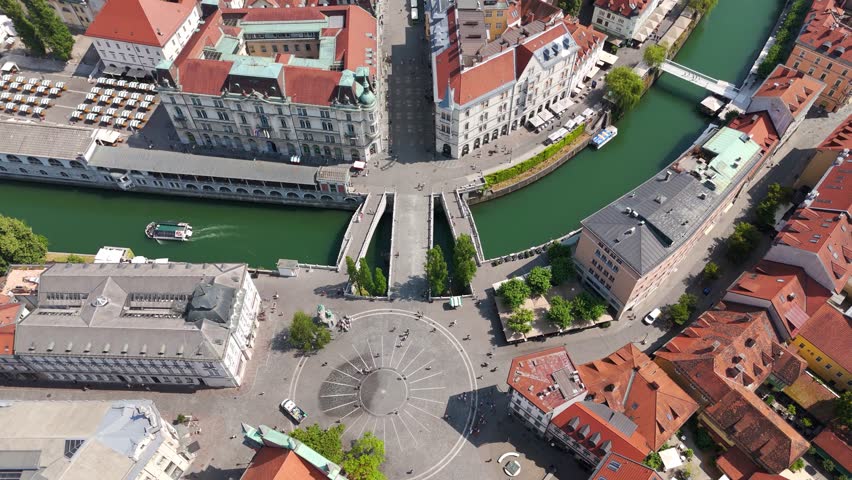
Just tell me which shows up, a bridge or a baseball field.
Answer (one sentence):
This aerial view contains a bridge.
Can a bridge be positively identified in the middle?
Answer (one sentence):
Yes, you'll find a bridge in the middle.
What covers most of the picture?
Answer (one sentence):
The bulk of the photo consists of buildings.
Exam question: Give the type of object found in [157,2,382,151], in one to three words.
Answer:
building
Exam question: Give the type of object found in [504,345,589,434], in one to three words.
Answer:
house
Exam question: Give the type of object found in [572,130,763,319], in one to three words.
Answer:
building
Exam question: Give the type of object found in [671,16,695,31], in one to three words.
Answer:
umbrella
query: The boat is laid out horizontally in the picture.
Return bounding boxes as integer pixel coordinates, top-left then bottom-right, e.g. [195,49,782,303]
[143,223,195,241]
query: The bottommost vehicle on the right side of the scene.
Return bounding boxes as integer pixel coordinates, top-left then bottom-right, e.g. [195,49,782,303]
[643,305,662,324]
